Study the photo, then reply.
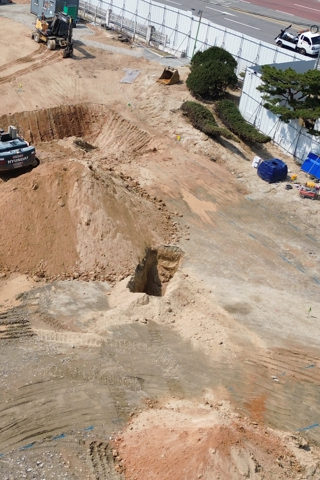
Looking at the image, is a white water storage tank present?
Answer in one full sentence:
No, the photo shows no white water storage tank.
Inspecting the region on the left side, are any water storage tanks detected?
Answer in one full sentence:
No, no water storage tank can be made out on the left side.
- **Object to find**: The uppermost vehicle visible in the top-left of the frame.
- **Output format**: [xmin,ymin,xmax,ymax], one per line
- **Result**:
[30,7,75,59]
